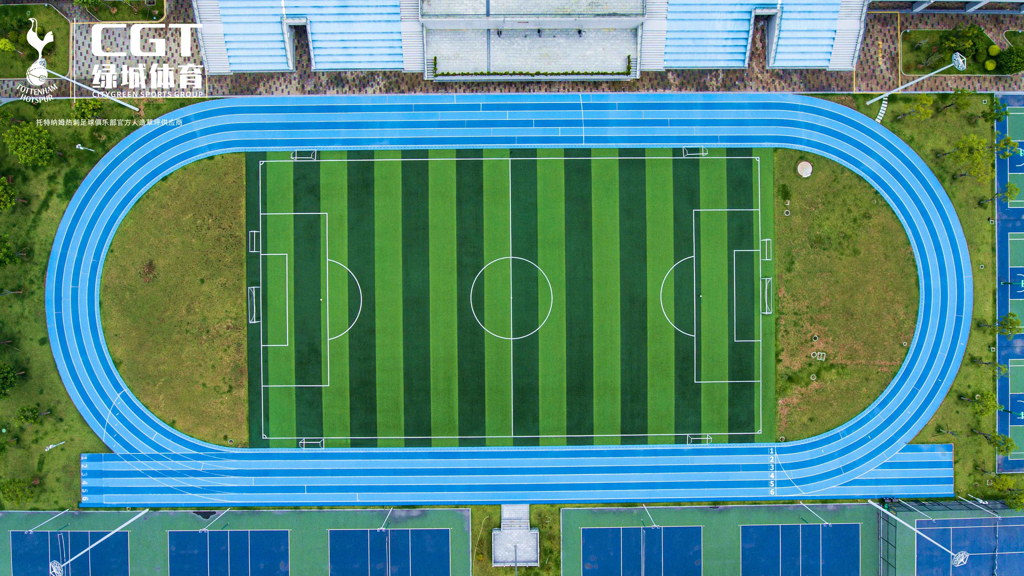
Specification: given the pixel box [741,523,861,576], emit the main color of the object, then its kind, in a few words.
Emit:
blue sports court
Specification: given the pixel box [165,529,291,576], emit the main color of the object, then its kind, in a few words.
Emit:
blue sports court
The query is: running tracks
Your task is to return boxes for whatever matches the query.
[45,93,974,508]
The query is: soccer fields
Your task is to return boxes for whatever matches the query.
[245,148,776,447]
